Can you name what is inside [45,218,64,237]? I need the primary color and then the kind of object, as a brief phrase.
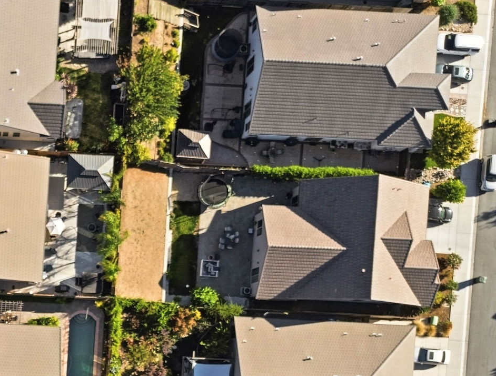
white umbrella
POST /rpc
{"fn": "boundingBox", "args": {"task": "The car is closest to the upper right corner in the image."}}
[438,32,484,57]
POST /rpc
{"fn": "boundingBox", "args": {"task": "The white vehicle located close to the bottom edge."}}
[414,347,452,367]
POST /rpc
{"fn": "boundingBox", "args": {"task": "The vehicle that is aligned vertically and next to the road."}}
[477,155,496,194]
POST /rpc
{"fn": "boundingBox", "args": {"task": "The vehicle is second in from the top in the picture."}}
[437,61,475,85]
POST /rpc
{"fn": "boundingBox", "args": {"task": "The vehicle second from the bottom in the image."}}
[425,203,458,223]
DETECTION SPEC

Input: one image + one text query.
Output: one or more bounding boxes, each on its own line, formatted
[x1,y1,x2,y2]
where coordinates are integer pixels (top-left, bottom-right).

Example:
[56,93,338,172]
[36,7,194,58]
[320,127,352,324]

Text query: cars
[425,203,458,223]
[414,347,452,367]
[437,61,475,85]
[438,32,484,57]
[477,155,496,194]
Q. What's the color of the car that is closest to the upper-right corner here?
white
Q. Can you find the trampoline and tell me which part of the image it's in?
center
